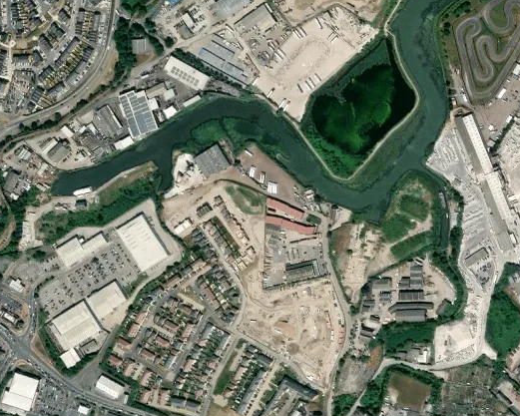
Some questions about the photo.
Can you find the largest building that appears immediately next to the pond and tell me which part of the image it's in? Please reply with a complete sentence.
You can find the largest building that appears immediately next to the pond in the right area of the picture.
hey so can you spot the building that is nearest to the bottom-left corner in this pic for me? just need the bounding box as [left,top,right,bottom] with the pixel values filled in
[1,372,40,412]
